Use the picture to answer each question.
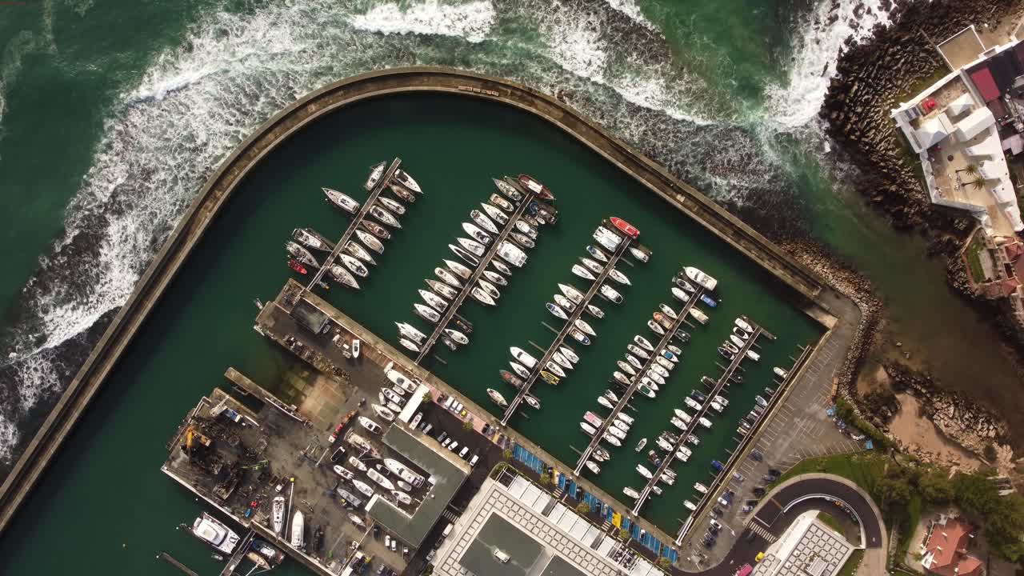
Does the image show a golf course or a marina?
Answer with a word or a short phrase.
marina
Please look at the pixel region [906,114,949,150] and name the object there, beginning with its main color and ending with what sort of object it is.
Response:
white tent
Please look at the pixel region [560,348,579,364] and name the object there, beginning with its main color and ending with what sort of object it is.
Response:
white boat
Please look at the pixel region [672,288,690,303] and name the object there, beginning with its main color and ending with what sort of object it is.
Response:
white boat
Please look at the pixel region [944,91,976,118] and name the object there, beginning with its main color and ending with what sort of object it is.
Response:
white tent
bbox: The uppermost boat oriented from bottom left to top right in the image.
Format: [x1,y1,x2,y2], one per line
[364,162,385,190]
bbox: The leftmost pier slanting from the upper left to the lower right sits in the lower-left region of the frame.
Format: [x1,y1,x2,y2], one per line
[155,551,204,576]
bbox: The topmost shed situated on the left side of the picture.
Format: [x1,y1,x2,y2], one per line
[289,298,330,335]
